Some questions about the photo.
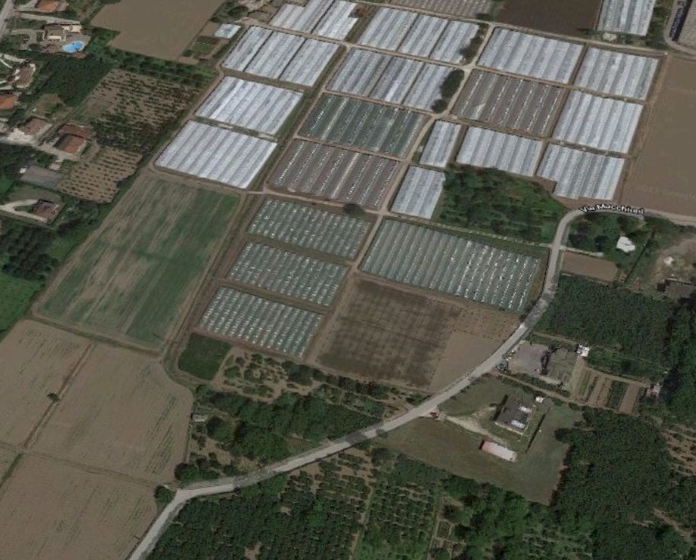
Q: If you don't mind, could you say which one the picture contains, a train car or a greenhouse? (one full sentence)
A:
The one in the frame is a greenhouse.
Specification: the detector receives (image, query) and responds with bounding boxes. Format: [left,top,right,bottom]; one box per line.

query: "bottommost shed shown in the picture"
[481,442,516,462]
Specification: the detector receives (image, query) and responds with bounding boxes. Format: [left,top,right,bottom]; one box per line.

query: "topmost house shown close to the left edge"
[34,0,65,14]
